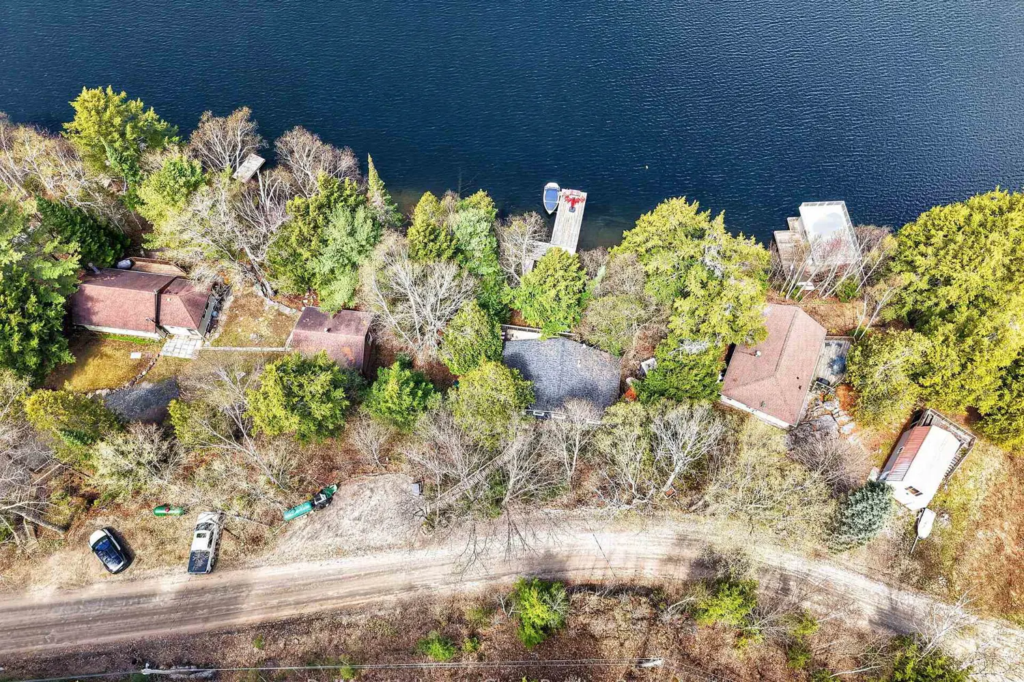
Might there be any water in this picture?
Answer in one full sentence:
Yes, water can be seen from above here.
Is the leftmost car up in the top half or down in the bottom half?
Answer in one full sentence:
It is in the bottom half that the leftmost car appears.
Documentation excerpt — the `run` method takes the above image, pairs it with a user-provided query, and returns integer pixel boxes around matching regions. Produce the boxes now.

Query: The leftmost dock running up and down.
[552,189,586,254]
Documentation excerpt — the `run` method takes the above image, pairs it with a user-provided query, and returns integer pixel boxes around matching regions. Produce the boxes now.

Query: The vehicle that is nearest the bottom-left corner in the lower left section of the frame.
[91,529,131,580]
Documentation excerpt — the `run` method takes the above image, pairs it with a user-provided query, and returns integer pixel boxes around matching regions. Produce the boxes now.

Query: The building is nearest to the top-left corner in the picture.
[73,268,233,340]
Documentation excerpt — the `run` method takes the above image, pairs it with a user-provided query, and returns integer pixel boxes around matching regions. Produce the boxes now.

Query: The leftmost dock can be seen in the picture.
[233,154,266,183]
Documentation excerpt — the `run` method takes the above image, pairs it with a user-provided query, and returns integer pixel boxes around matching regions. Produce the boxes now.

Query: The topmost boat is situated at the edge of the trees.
[543,179,561,216]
